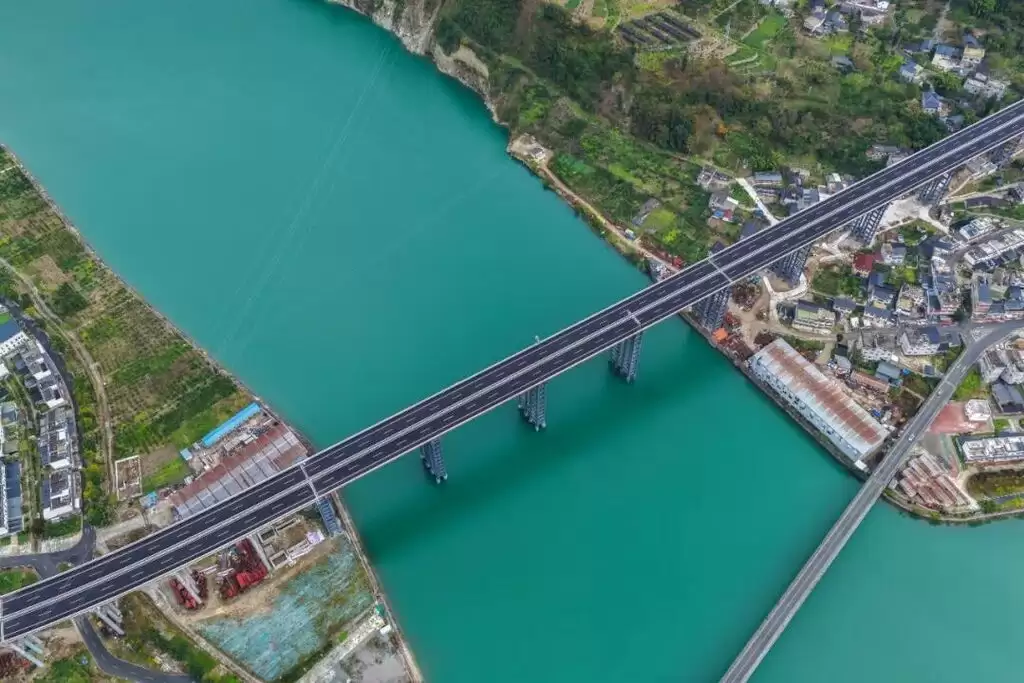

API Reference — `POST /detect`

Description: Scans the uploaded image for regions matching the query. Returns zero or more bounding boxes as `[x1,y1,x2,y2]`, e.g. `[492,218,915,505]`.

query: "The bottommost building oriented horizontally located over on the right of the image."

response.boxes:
[957,438,1024,473]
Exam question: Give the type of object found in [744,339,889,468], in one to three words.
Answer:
building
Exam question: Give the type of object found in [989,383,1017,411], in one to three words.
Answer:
building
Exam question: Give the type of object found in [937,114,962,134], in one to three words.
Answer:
house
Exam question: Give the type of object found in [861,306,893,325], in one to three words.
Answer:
house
